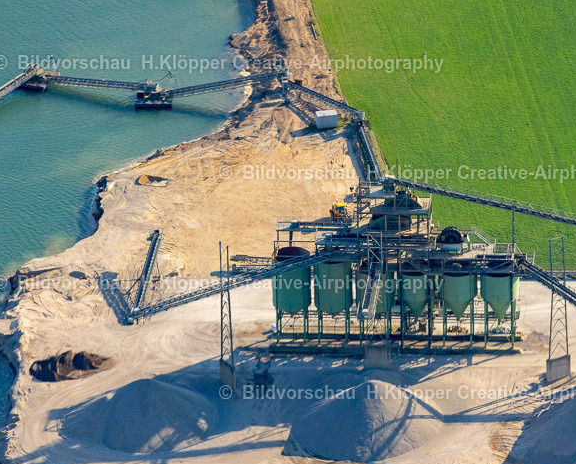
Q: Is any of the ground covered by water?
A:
Yes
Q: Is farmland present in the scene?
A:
Yes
